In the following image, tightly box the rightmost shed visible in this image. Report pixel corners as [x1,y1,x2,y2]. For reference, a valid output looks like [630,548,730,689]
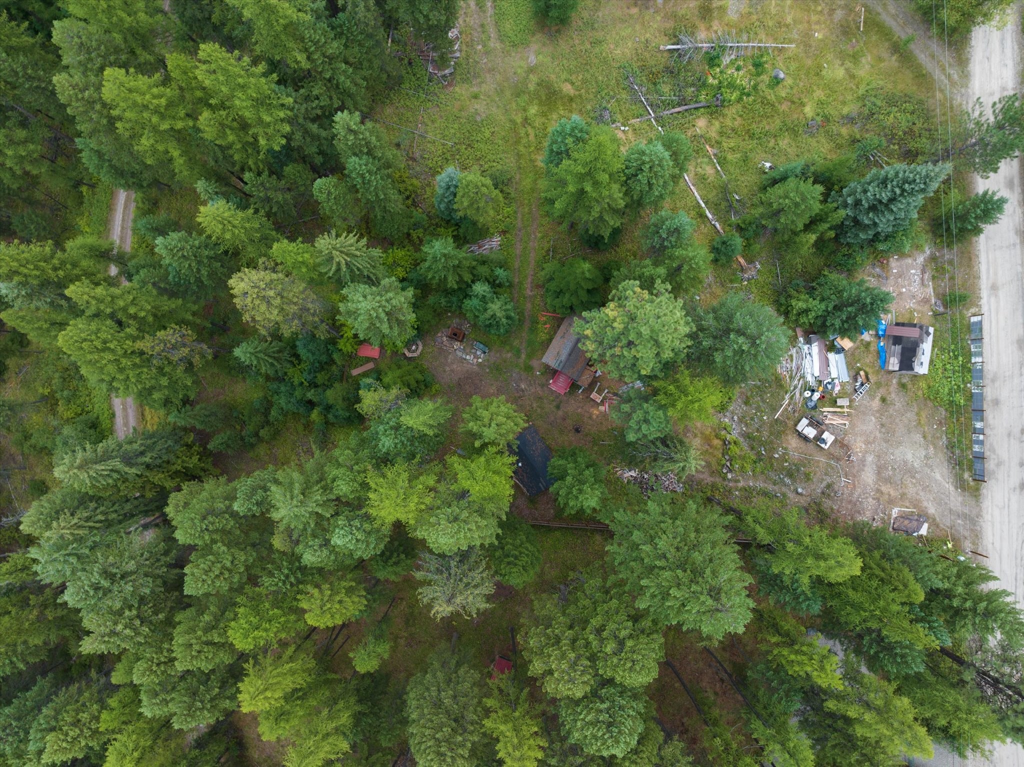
[882,322,932,375]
